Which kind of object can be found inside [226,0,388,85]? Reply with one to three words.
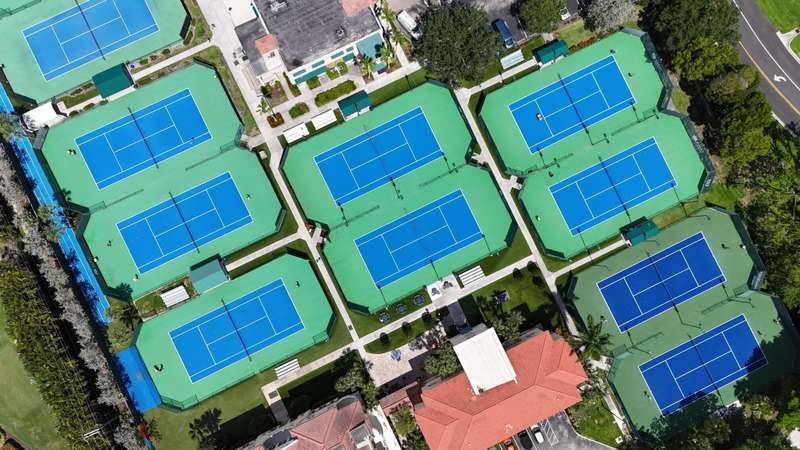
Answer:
building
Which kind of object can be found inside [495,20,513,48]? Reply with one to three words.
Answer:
vehicle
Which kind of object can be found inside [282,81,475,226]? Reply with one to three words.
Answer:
tennis court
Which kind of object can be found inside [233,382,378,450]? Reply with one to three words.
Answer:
building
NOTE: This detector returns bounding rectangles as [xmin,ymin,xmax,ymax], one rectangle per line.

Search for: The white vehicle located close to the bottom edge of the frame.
[530,423,547,445]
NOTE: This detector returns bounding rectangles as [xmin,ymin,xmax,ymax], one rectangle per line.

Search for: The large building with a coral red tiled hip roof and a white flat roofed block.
[416,323,588,450]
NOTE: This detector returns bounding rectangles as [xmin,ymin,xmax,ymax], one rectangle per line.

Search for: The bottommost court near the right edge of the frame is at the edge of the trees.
[610,283,797,440]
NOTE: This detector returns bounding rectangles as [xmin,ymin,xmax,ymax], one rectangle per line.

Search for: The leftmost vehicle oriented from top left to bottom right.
[397,9,421,41]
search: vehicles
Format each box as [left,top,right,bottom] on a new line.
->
[397,9,421,41]
[495,20,513,48]
[516,430,534,450]
[505,437,519,450]
[555,0,571,23]
[530,423,547,445]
